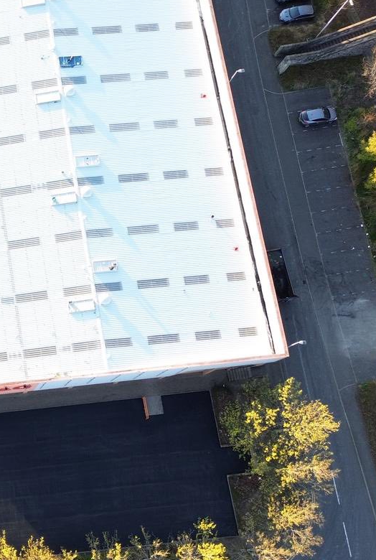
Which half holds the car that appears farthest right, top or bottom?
top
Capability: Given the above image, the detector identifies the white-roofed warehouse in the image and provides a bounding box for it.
[0,0,288,395]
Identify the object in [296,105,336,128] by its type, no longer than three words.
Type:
car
